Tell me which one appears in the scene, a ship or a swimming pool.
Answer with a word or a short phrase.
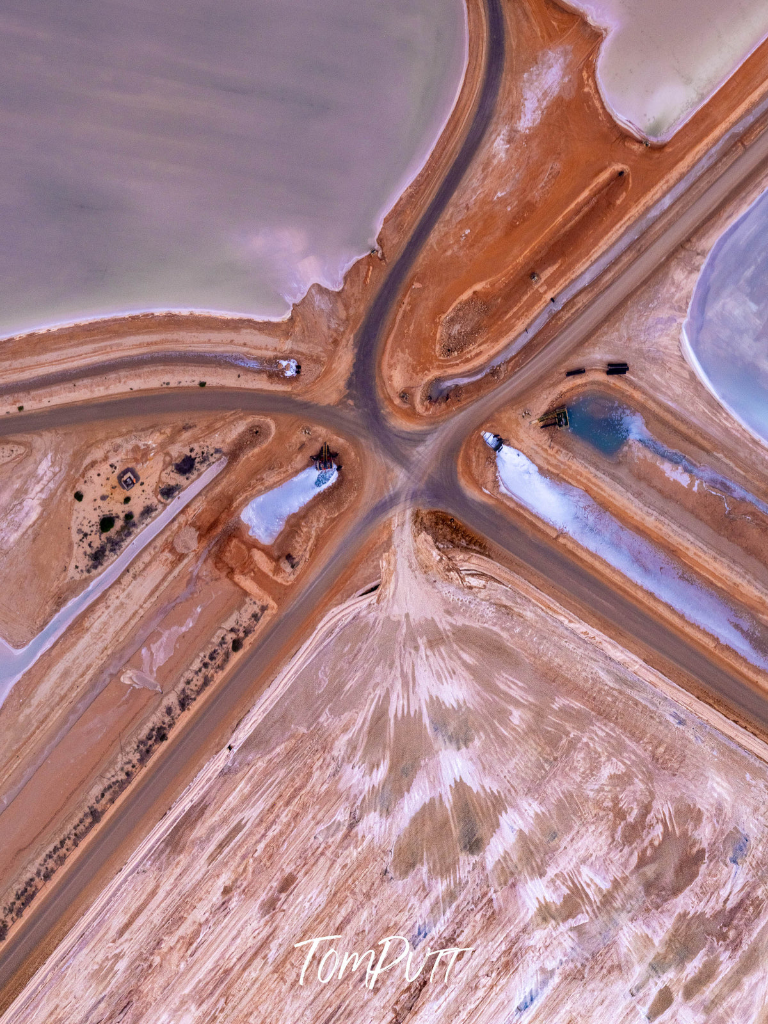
swimming pool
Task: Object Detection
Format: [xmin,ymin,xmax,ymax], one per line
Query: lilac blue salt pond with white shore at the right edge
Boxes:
[682,191,768,442]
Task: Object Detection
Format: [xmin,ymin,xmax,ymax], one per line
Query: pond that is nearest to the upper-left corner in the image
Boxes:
[0,0,468,342]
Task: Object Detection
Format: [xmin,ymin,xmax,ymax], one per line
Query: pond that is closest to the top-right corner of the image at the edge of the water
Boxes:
[557,0,768,144]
